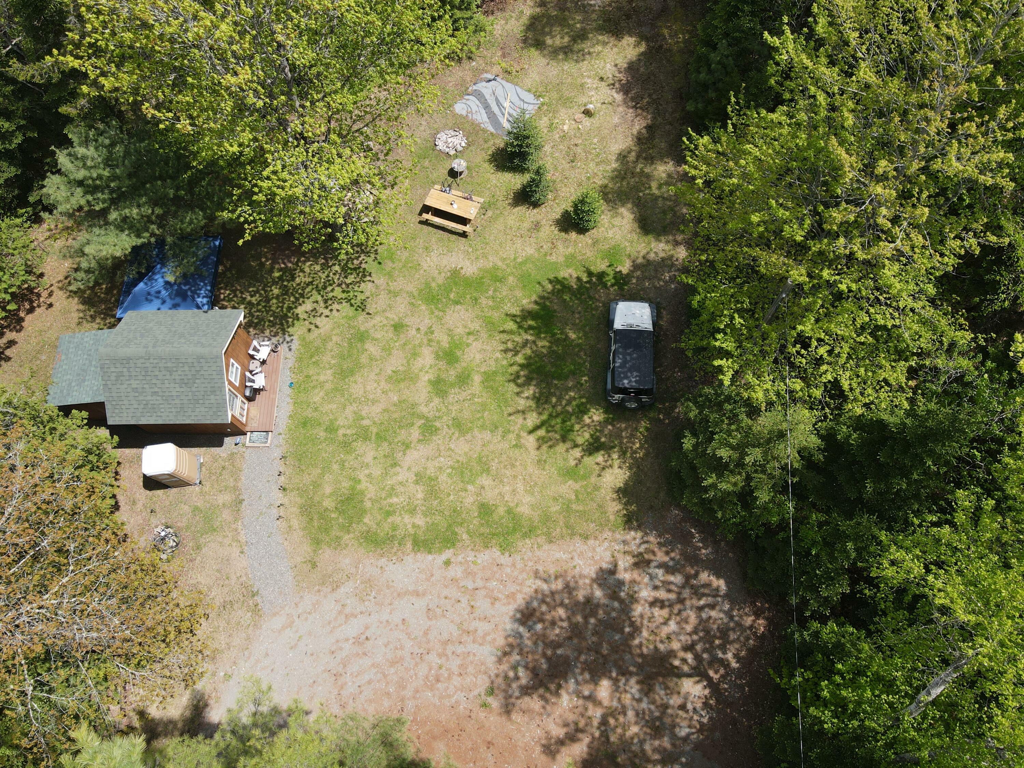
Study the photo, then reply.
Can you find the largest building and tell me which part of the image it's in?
left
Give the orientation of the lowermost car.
vertically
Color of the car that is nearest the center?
black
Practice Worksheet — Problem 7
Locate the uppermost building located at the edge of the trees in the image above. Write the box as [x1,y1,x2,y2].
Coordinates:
[42,312,254,433]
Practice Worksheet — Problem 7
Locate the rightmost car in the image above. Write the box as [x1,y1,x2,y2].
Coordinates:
[604,297,662,411]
